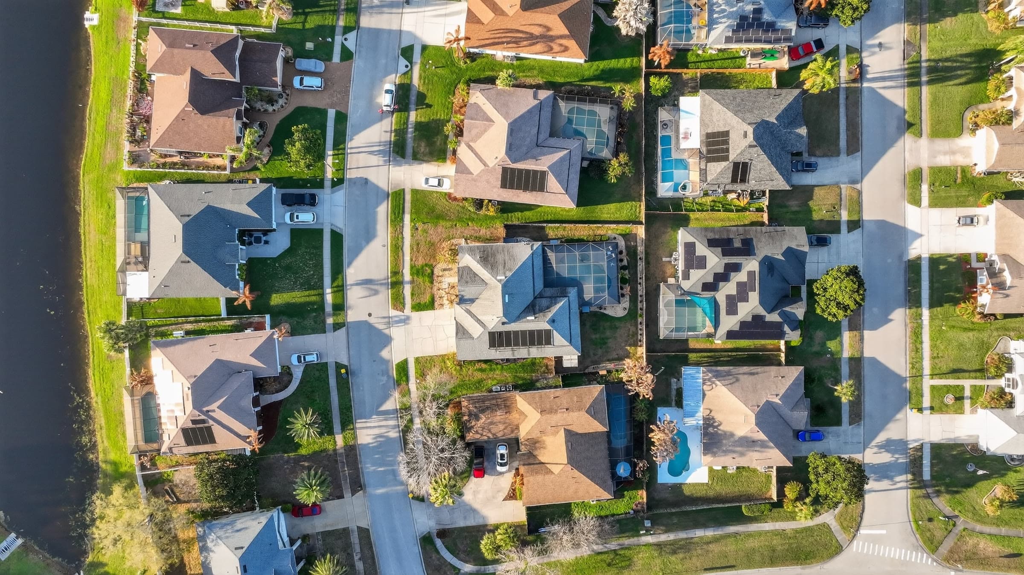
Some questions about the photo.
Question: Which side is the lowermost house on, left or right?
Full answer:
The lowermost house is on the left side of the image.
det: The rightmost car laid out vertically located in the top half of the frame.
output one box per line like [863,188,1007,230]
[381,84,397,114]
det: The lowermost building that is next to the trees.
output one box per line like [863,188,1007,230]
[196,507,306,575]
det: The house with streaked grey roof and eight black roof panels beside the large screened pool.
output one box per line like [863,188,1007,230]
[455,243,581,359]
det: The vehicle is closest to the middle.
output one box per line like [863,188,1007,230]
[421,176,451,190]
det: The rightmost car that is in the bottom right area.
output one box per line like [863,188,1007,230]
[796,429,822,442]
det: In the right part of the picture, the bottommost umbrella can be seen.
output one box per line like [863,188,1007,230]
[616,462,631,478]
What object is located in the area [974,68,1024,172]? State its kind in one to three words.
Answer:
house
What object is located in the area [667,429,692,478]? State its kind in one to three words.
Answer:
swimming pool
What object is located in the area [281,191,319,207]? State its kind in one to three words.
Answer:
vehicle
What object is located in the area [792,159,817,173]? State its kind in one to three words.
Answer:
car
